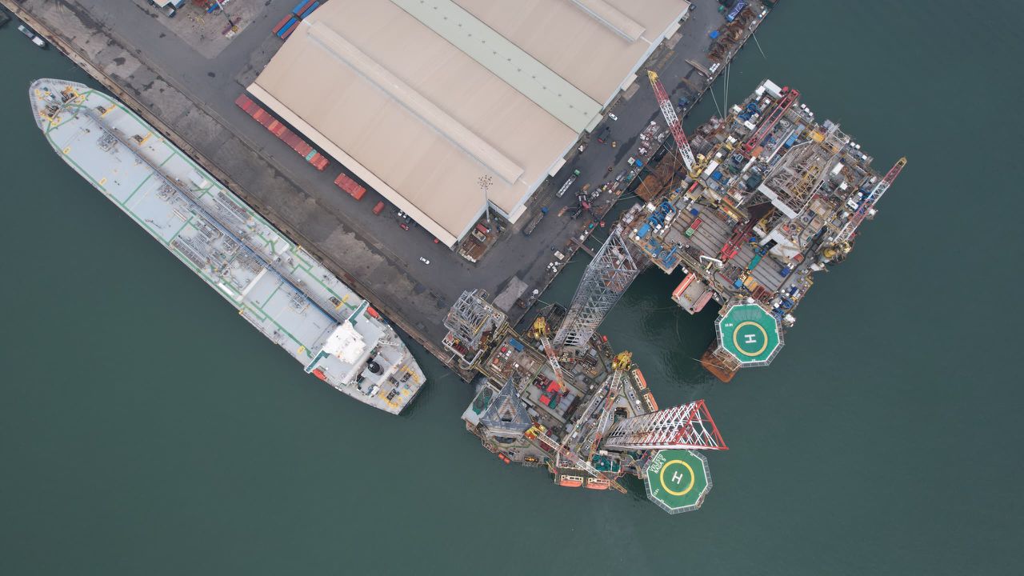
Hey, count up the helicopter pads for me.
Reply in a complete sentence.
There are 2 helicopter pads in the image.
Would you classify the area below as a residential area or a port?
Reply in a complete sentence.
It's a port.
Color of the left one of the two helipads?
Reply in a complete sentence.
The left one of the two helipads looks green in the image.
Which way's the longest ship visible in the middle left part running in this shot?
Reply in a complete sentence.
Seen from above, the longest ship visible in the middle left part lies at an angle.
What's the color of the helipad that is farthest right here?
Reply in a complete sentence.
The color of the helipad that is farthest right is green.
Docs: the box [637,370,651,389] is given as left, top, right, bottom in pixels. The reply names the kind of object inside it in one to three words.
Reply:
boat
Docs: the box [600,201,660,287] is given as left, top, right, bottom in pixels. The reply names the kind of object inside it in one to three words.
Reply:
ship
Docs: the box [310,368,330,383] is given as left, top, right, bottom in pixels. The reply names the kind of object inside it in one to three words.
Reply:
boat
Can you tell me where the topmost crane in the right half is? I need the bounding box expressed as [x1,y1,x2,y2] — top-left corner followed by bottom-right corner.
[649,71,714,180]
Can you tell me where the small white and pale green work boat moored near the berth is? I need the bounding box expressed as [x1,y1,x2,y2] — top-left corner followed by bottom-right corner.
[20,27,42,45]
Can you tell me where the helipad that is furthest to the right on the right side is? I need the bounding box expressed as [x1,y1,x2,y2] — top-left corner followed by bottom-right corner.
[714,298,785,369]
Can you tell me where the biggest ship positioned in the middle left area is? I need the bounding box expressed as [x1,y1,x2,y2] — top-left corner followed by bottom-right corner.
[25,76,427,415]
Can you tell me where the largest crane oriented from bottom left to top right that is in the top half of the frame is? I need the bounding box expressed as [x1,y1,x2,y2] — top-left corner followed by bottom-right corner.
[831,159,906,256]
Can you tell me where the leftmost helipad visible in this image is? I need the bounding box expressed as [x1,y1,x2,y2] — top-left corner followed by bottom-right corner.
[641,449,713,515]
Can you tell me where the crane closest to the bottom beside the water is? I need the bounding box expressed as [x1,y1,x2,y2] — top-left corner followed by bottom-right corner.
[525,424,629,492]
